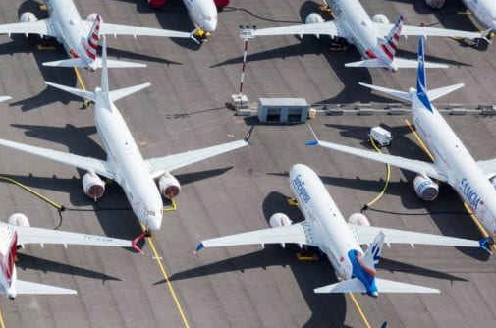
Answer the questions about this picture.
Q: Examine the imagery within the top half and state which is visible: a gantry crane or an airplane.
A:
airplane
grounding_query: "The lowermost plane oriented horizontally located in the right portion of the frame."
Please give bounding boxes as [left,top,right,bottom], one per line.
[197,163,493,299]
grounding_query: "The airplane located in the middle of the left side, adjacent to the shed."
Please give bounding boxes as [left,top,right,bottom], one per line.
[0,35,253,234]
